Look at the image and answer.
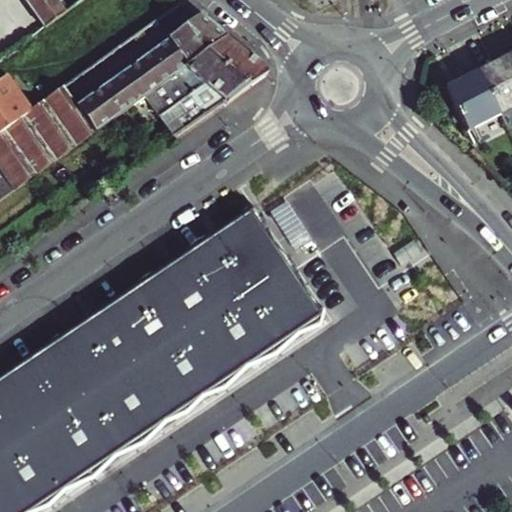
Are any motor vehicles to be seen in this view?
Yes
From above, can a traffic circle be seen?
Yes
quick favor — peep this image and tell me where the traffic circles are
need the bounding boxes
[280,25,400,145]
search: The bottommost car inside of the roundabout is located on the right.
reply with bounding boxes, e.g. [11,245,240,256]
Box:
[311,96,326,116]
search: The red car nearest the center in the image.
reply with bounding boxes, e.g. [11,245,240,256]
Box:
[340,205,358,220]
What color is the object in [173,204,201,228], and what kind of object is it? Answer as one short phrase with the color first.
white vehicle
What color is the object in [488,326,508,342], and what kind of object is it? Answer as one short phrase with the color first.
white car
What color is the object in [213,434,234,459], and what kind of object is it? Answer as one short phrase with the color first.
white vehicle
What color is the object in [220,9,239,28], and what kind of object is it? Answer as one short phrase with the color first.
white car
